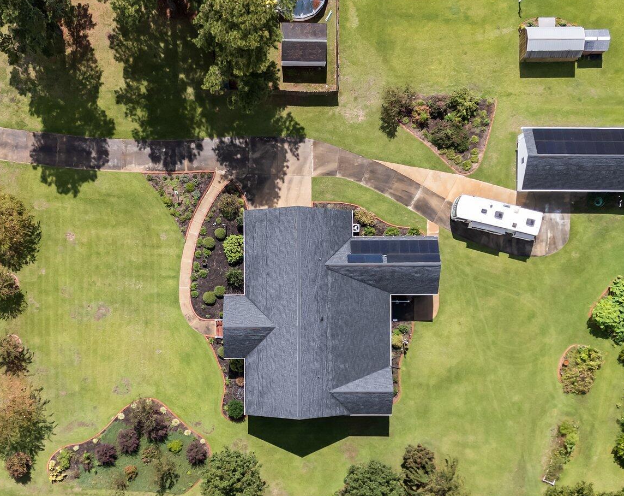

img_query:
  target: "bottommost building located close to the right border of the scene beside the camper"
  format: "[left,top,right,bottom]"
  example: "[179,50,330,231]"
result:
[518,127,624,192]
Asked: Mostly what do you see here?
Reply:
grass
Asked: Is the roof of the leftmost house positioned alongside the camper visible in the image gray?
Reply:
Yes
